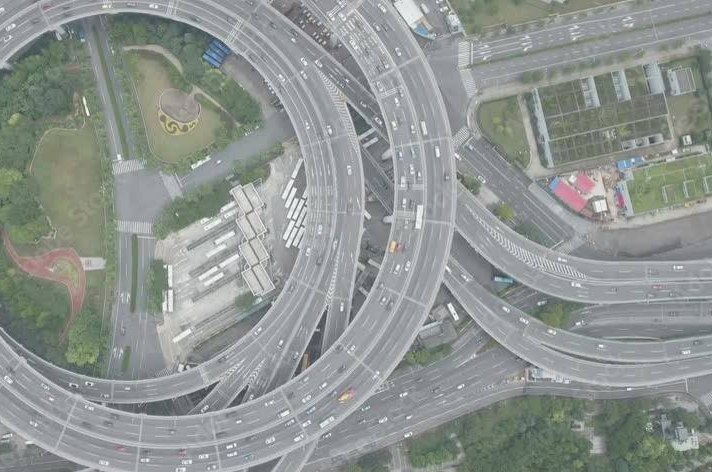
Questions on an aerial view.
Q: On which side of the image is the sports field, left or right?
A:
right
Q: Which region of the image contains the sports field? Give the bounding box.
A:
[630,153,712,213]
